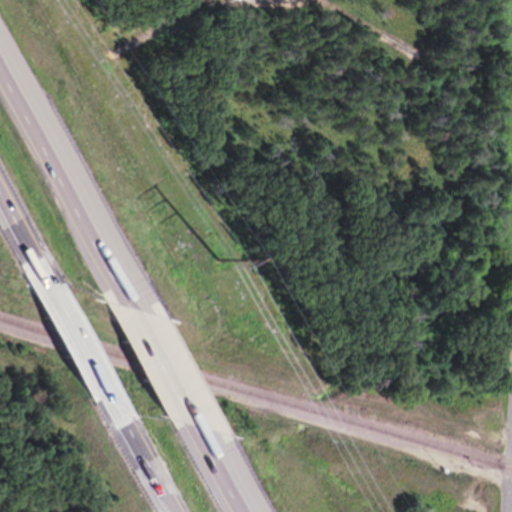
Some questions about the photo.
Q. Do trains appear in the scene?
No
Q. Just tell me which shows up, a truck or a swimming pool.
truck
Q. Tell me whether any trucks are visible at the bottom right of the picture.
No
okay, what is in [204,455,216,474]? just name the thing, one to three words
vehicle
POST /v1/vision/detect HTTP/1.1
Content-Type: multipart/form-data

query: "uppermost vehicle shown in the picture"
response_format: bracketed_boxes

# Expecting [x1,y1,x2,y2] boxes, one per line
[44,160,56,178]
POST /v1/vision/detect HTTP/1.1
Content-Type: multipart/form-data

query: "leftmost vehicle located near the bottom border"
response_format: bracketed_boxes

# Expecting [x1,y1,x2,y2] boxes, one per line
[140,459,162,498]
